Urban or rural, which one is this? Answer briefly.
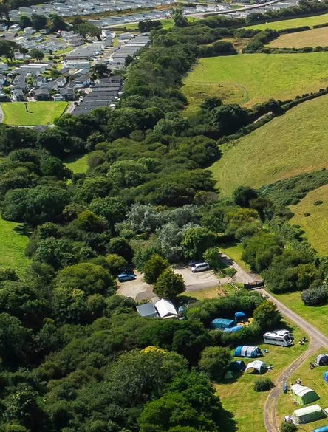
rural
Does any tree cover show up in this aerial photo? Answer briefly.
Yes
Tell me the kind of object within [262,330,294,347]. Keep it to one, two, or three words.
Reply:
camper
